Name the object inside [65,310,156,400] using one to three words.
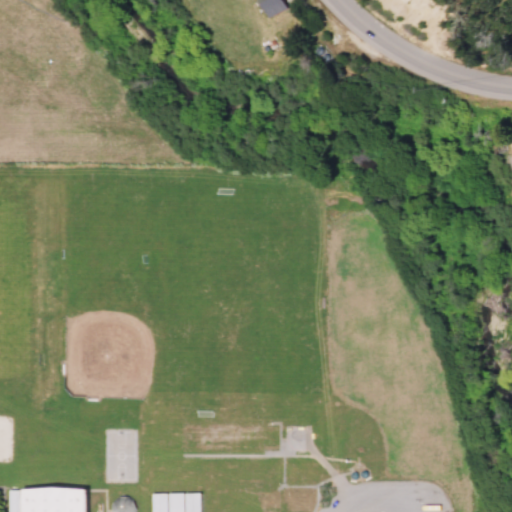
baseball field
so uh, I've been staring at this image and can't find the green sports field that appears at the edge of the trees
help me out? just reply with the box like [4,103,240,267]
[65,178,328,401]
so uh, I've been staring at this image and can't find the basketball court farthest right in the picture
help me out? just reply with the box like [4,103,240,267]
[106,429,138,482]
